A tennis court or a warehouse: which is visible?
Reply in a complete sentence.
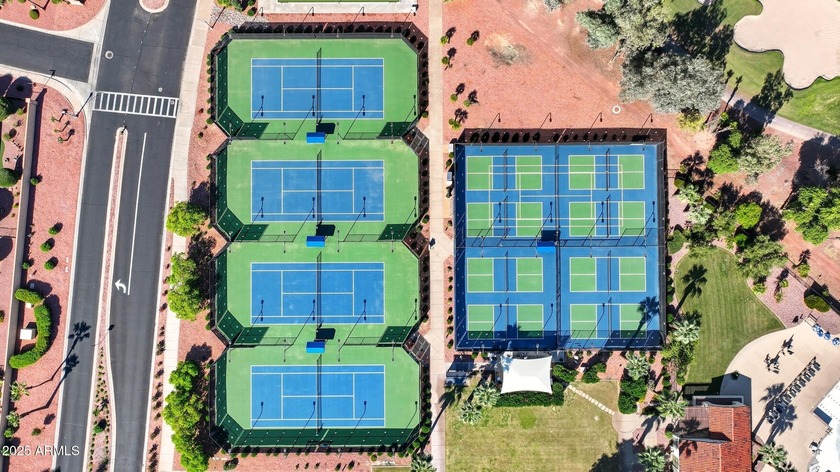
It is a tennis court that can be seen here.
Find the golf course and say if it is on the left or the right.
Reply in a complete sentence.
It is on the right.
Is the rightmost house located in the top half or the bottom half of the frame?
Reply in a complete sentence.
It is in the bottom half that the rightmost house appears.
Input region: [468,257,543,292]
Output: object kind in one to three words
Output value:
sports court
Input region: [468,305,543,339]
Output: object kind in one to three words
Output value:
sports court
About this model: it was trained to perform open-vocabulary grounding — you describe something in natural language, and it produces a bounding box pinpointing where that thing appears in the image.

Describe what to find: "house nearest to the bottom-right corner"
[671,392,753,472]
